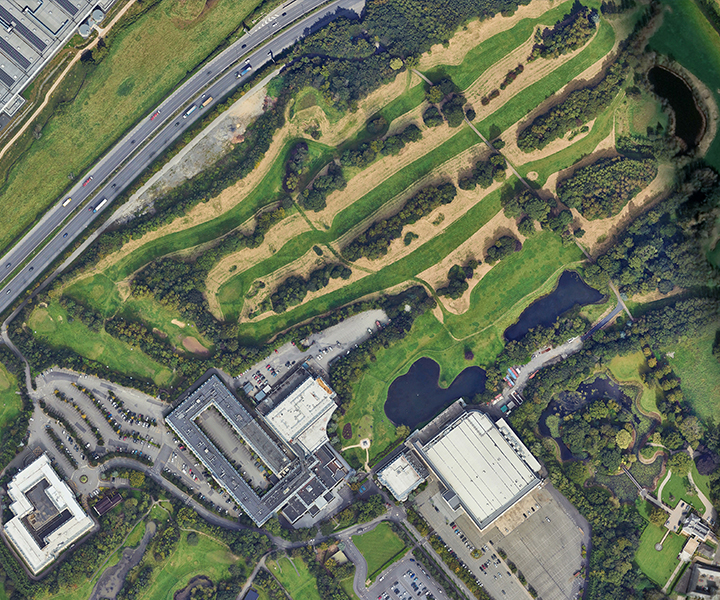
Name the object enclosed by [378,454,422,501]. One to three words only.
building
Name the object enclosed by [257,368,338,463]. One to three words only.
building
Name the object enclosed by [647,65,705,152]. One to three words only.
pond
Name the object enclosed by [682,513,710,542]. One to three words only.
house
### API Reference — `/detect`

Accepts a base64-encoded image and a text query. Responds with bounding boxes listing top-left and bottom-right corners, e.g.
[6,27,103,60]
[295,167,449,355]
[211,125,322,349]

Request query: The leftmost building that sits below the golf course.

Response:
[4,453,95,575]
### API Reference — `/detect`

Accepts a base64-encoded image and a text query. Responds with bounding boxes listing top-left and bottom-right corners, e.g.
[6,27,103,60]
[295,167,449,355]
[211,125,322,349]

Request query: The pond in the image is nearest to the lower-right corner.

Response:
[540,370,664,504]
